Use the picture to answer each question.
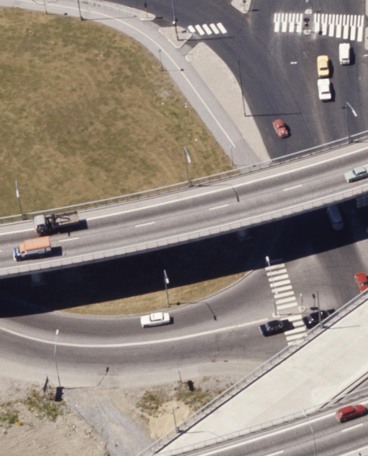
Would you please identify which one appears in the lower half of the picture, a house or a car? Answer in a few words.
car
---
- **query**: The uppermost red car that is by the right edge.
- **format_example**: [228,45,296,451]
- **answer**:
[355,270,368,293]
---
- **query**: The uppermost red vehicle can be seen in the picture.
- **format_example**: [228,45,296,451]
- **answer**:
[273,119,288,138]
